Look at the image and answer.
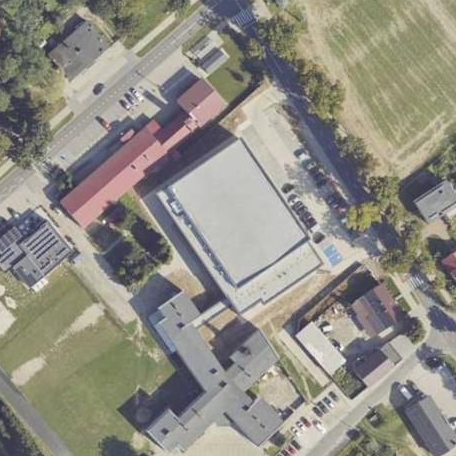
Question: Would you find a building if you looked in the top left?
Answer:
Yes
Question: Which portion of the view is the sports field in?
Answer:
bottom left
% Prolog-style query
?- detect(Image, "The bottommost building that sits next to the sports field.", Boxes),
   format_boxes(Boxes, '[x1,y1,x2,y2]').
[147,291,284,452]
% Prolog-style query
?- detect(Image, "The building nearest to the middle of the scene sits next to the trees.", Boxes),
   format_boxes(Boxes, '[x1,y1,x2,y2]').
[157,140,322,311]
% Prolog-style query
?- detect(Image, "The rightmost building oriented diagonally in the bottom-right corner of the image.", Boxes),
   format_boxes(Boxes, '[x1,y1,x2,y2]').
[405,395,456,456]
